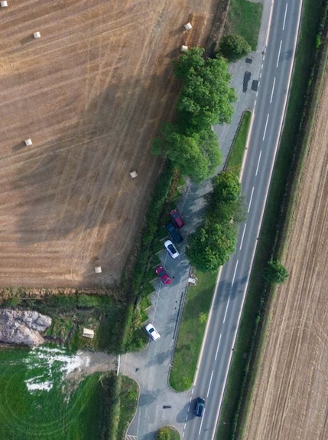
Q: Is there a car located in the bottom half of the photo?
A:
Yes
